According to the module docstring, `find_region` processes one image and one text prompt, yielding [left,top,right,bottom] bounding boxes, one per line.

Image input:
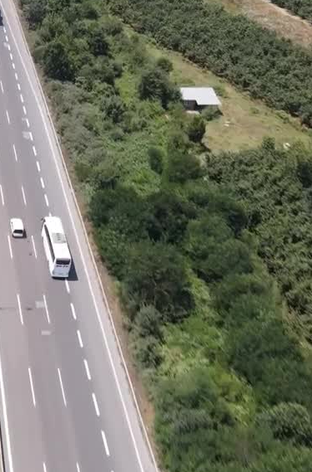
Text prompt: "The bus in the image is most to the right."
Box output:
[41,215,71,276]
